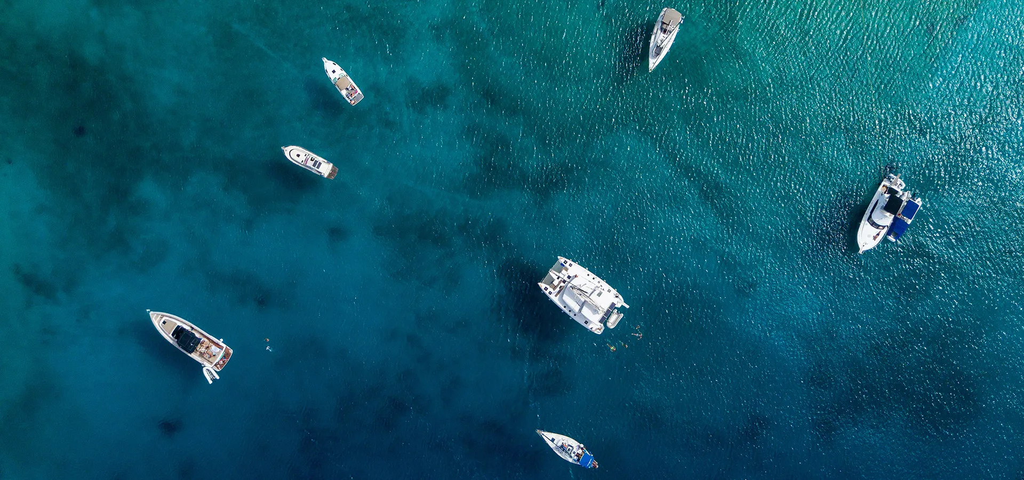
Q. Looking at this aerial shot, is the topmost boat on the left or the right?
right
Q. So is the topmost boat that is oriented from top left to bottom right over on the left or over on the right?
left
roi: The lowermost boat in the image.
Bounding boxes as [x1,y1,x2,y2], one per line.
[536,429,598,468]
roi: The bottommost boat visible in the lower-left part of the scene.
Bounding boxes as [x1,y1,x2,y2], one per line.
[202,366,218,383]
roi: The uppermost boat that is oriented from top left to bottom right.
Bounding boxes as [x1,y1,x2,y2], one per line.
[322,58,364,106]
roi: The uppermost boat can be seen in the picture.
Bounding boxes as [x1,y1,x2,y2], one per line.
[648,2,685,72]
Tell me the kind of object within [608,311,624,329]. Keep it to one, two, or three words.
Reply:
boat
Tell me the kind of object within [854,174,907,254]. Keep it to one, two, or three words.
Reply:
boat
